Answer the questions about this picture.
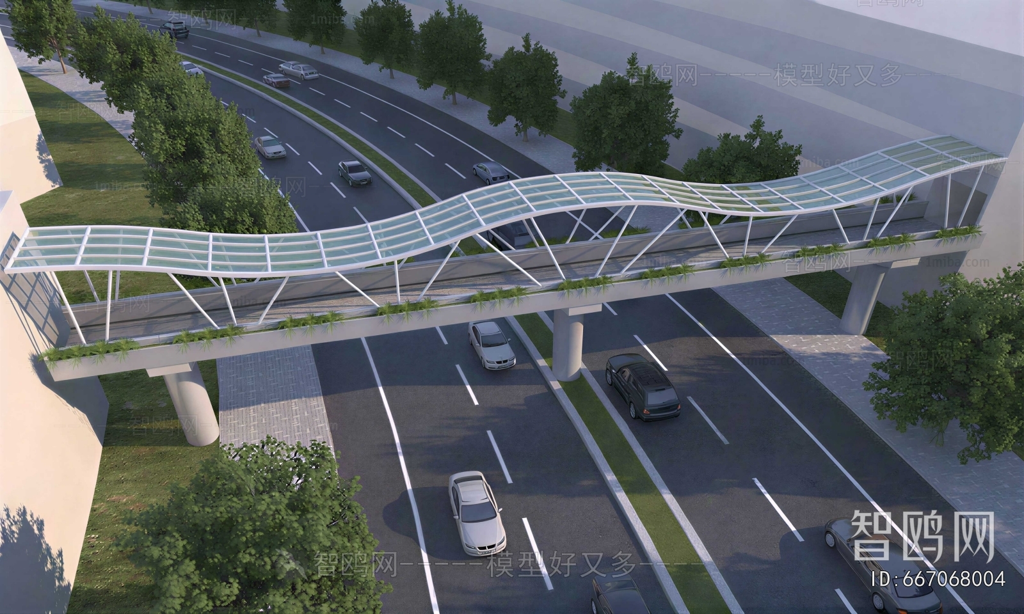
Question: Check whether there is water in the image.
No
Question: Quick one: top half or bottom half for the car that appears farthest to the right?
bottom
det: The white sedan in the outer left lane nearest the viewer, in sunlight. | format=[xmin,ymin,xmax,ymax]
[443,460,504,552]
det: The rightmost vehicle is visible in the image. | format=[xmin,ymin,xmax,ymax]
[828,514,942,614]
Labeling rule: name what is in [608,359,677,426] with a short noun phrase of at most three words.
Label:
car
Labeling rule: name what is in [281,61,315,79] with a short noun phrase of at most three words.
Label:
car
